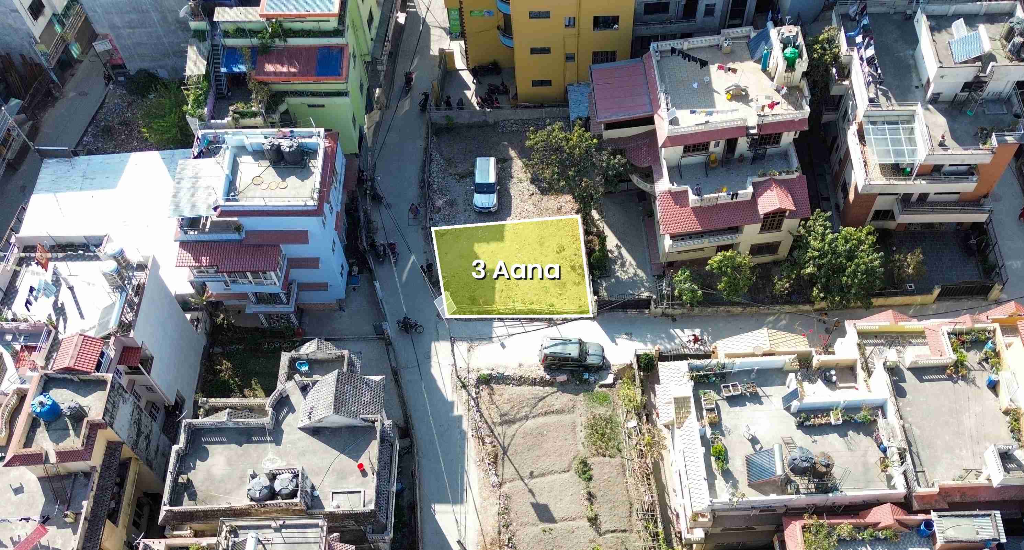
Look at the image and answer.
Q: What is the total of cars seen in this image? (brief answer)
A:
2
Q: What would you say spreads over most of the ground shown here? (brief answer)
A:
buildings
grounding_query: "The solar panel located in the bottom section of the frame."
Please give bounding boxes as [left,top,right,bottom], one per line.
[776,380,805,416]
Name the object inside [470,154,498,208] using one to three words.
car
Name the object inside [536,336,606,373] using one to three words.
car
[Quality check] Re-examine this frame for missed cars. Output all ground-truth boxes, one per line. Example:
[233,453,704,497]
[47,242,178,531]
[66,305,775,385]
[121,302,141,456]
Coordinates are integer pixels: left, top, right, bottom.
[536,336,606,373]
[470,154,498,208]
